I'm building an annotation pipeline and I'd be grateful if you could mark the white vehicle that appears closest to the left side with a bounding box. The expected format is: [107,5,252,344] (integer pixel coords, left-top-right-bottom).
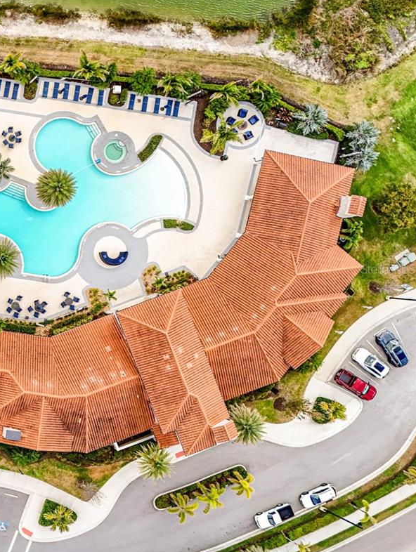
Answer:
[251,497,299,528]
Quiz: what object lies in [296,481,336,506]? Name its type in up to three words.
car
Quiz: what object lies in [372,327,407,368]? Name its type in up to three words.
car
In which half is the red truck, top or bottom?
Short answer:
bottom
